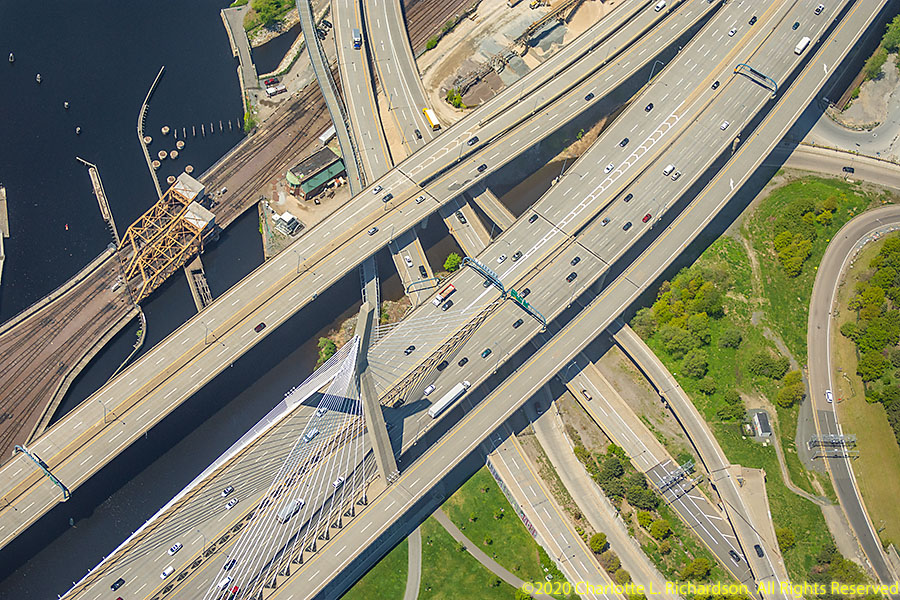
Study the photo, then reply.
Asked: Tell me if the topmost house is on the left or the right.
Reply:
left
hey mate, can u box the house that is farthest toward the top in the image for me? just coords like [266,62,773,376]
[283,146,345,203]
